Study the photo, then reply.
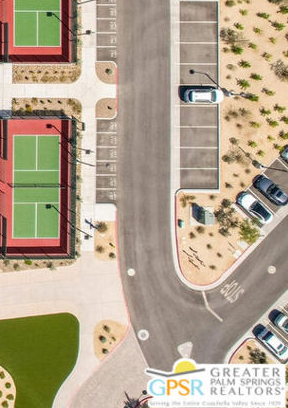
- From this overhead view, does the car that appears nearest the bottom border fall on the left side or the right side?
right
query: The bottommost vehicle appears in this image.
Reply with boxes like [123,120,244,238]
[253,325,288,357]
